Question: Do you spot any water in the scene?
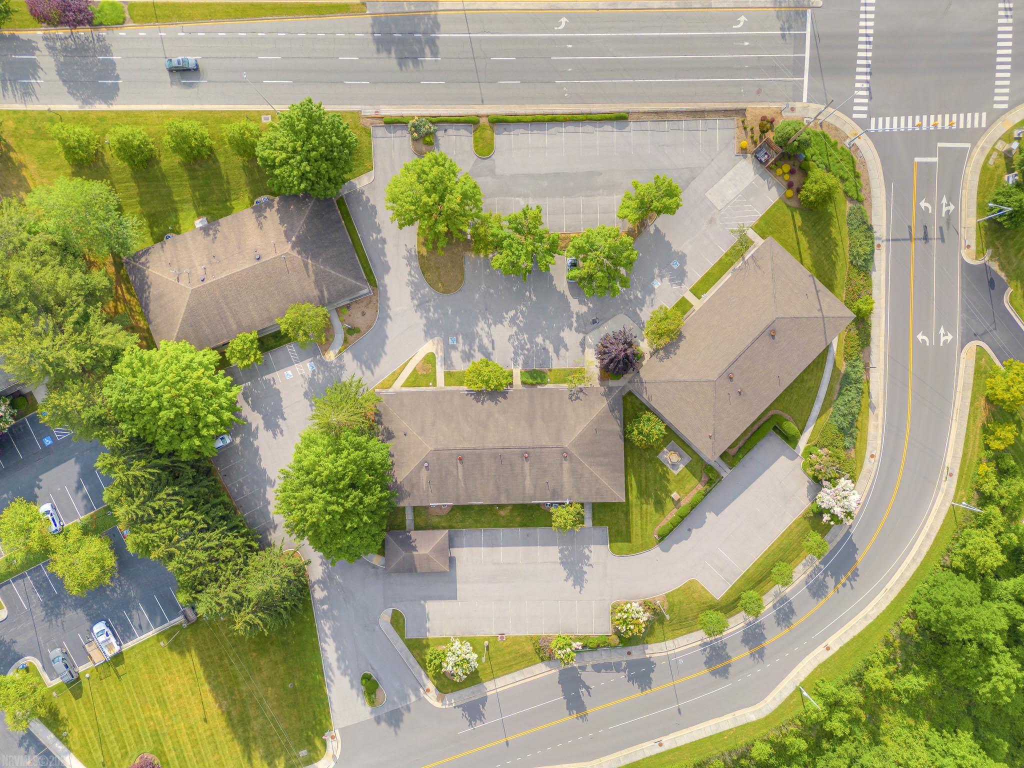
No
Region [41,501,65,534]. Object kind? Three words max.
car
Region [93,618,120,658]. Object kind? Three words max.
truck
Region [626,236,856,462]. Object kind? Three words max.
building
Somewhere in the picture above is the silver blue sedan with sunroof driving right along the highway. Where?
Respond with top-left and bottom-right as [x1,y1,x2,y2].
[166,57,200,73]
